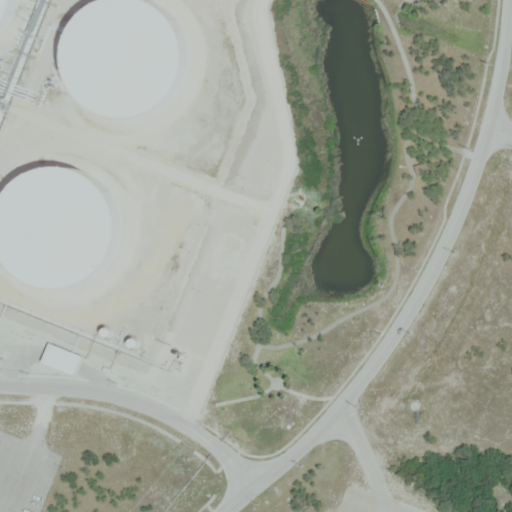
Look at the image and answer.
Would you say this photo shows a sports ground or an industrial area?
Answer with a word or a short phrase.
industrial area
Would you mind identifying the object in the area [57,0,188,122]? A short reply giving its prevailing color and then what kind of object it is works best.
white storage tank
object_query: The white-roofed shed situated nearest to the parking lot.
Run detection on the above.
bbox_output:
[40,342,82,376]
